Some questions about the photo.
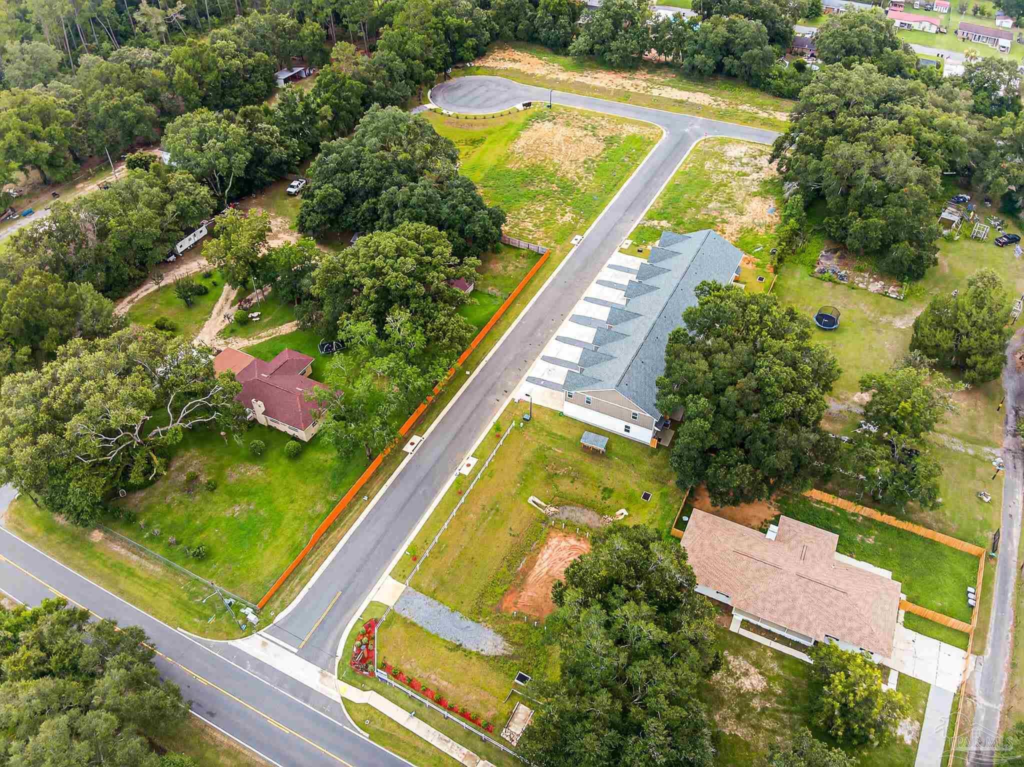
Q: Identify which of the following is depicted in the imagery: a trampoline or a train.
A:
trampoline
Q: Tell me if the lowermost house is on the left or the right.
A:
right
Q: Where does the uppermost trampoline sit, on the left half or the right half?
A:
right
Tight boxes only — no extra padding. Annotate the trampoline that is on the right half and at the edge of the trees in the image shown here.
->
[816,305,843,329]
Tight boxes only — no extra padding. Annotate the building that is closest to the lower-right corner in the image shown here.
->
[676,511,905,668]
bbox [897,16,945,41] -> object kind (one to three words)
house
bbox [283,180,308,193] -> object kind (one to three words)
vehicle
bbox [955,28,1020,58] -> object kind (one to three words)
house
